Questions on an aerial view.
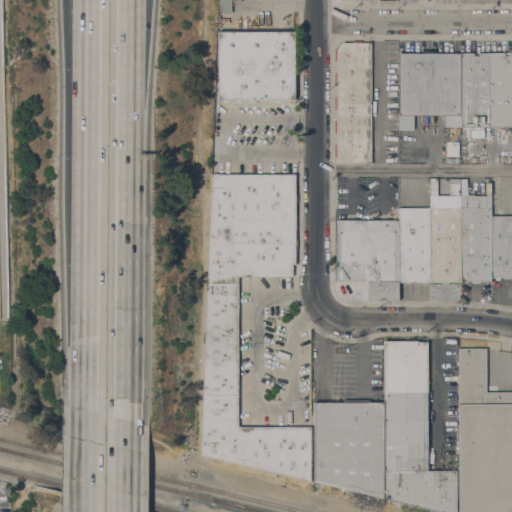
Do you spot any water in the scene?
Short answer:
No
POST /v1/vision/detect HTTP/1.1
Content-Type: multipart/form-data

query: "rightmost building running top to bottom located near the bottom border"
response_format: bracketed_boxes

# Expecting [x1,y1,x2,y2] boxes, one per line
[459,404,512,512]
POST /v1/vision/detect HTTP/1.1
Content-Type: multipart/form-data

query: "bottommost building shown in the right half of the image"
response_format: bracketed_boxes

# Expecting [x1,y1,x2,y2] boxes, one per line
[386,471,458,512]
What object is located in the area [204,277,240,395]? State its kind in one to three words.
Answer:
building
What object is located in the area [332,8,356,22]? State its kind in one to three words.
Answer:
vehicle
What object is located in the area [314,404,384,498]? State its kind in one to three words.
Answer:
building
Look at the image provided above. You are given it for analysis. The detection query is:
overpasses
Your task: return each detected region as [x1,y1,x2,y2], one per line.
[62,398,150,512]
